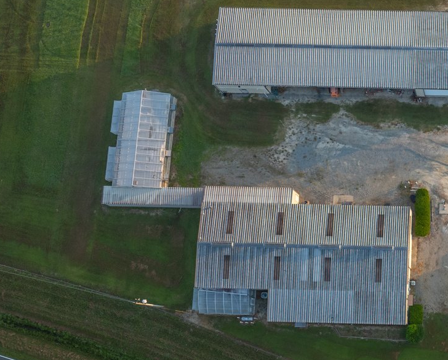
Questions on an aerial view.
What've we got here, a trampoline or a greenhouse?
greenhouse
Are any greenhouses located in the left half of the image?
Yes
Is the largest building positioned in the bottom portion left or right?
right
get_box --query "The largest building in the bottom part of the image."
[194,186,412,326]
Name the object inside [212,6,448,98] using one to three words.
barn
